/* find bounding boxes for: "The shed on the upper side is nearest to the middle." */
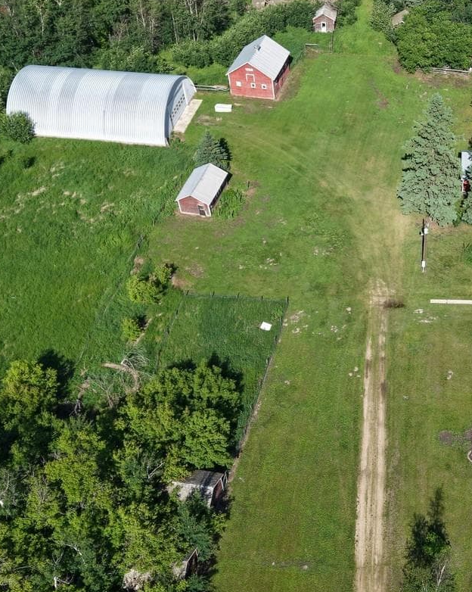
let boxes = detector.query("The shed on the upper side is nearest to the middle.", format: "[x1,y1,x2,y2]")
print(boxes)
[175,163,228,216]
